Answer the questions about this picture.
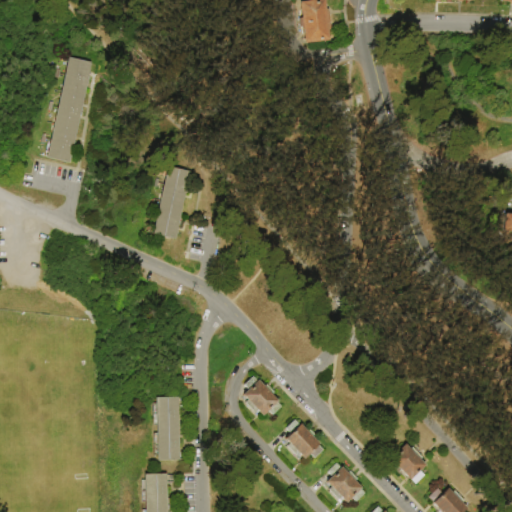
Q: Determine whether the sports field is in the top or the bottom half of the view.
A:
bottom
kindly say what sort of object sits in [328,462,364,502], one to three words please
house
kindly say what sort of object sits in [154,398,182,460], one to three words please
building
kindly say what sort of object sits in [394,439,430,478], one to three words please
house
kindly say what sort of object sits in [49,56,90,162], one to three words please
building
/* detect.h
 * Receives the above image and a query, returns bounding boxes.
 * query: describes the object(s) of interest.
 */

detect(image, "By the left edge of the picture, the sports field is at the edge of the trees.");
[0,310,99,512]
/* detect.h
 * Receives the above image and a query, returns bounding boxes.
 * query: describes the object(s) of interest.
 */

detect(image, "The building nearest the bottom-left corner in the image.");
[142,474,173,512]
